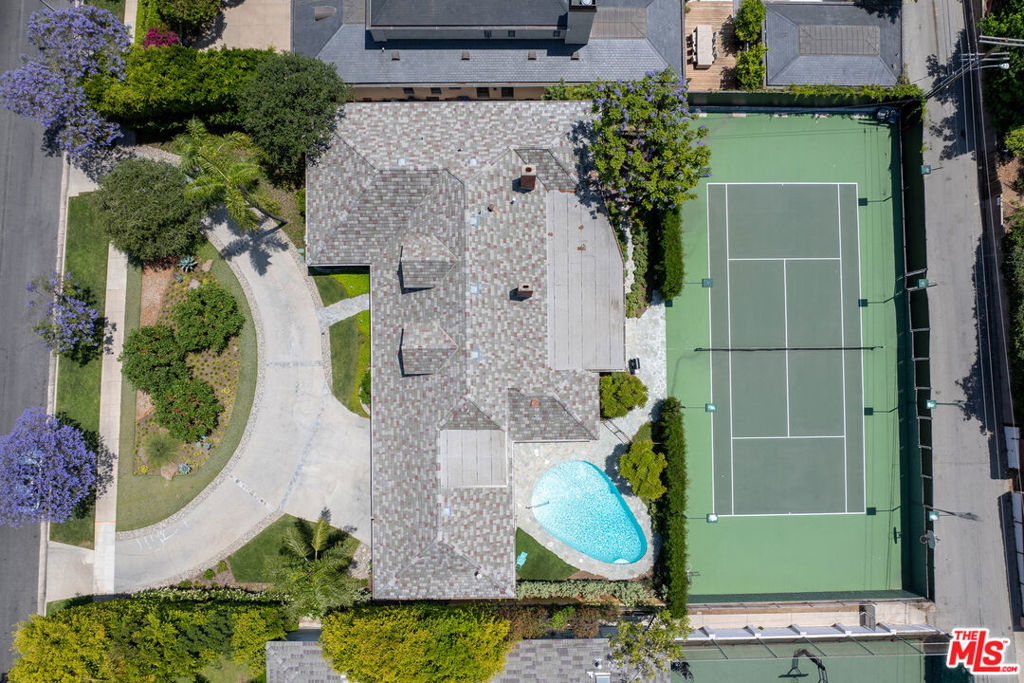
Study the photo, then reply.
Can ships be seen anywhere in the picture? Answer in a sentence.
No, I can't see a single ship in this photo.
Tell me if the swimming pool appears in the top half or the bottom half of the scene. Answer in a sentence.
The bottom half of the photo is where the swimming pool is.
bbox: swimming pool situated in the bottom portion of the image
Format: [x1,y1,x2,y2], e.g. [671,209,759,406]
[527,455,651,568]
